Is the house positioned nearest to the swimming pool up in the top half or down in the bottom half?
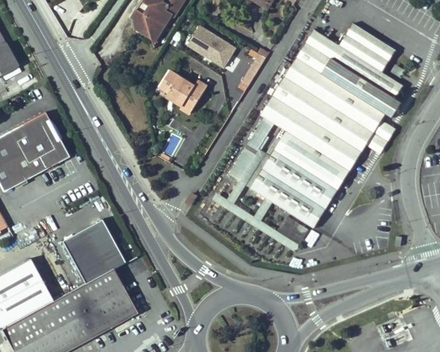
top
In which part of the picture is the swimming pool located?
center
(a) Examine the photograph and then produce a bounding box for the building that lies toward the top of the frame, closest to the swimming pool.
[158,69,207,115]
